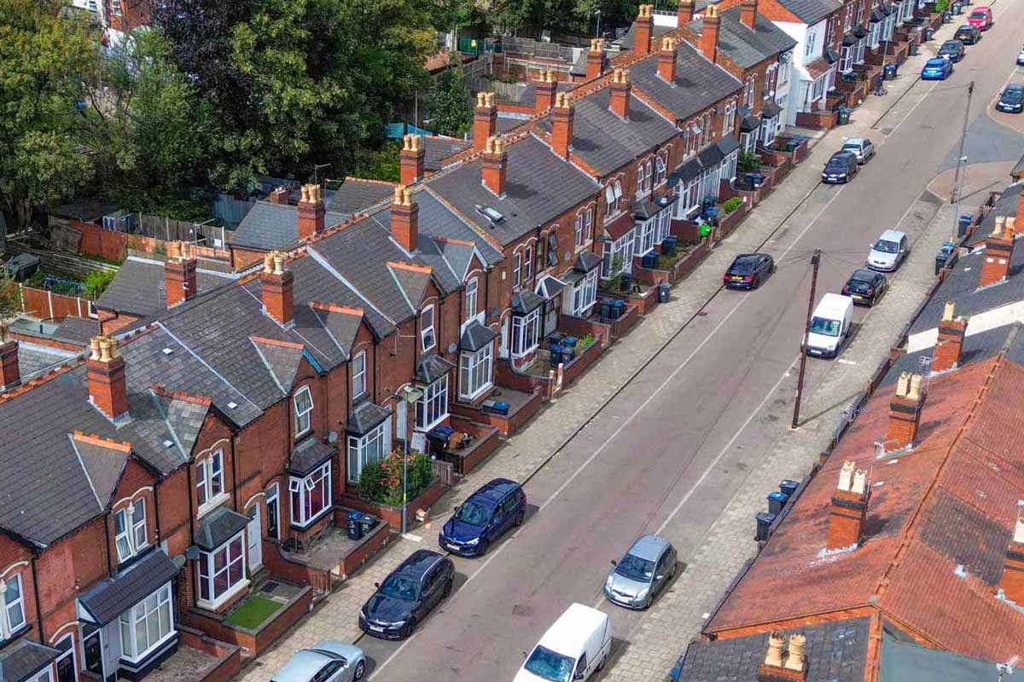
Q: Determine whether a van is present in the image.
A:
Yes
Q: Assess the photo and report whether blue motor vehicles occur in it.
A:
Yes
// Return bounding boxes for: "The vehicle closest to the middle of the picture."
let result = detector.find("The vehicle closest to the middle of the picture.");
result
[451,474,538,552]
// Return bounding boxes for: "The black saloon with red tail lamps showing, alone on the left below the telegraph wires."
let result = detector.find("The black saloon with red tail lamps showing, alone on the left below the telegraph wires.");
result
[726,247,779,284]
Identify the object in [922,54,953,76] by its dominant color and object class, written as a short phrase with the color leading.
blue car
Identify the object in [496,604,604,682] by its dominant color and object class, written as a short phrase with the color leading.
white van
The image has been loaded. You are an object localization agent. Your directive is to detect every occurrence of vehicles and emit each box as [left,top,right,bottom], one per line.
[451,474,538,552]
[998,81,1024,109]
[868,225,913,266]
[939,34,969,58]
[970,4,996,27]
[922,54,953,76]
[805,287,860,349]
[726,247,779,284]
[843,263,890,300]
[846,133,881,160]
[606,525,683,600]
[825,146,864,179]
[365,545,468,636]
[956,20,984,40]
[496,604,604,682]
